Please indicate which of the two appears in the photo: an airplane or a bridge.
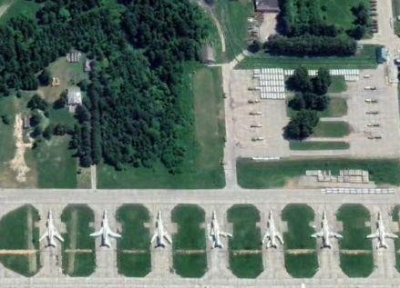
airplane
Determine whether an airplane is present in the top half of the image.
No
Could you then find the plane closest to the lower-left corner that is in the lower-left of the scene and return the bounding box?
[40,209,64,247]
